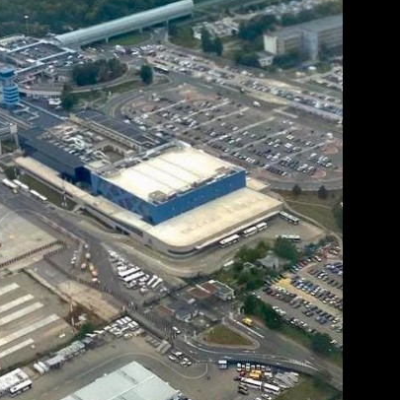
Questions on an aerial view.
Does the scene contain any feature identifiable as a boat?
No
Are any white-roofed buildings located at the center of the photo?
Yes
